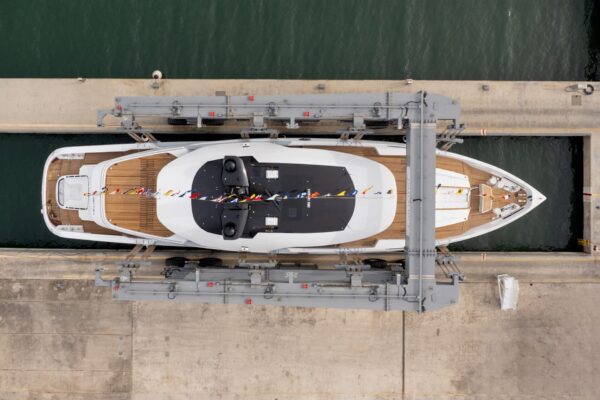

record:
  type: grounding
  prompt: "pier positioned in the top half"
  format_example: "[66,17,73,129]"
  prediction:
[0,78,600,135]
